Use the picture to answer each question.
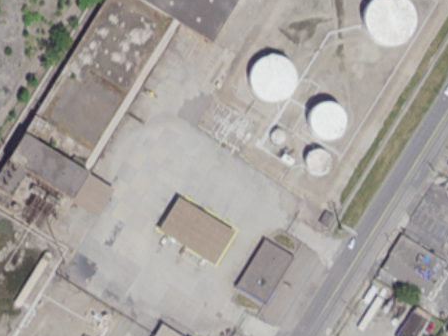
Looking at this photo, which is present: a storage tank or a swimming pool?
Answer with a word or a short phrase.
storage tank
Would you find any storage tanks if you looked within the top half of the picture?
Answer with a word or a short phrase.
Yes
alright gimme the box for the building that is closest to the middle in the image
[161,194,234,264]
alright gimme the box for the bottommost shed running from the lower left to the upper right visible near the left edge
[14,253,51,306]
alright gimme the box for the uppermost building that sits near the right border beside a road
[378,234,448,300]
